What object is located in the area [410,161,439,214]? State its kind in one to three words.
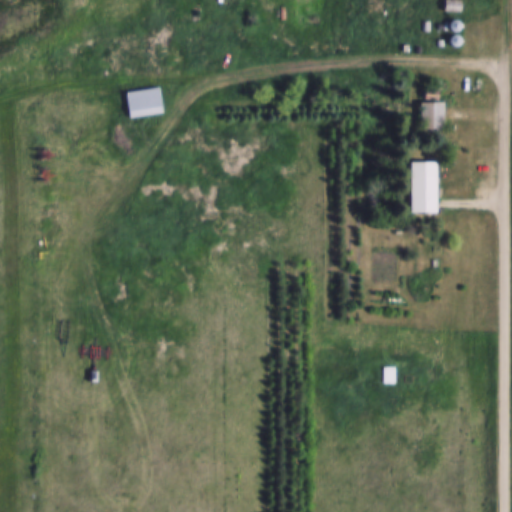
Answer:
barn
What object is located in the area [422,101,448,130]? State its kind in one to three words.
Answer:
house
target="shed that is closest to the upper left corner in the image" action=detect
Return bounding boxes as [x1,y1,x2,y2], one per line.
[128,88,164,118]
